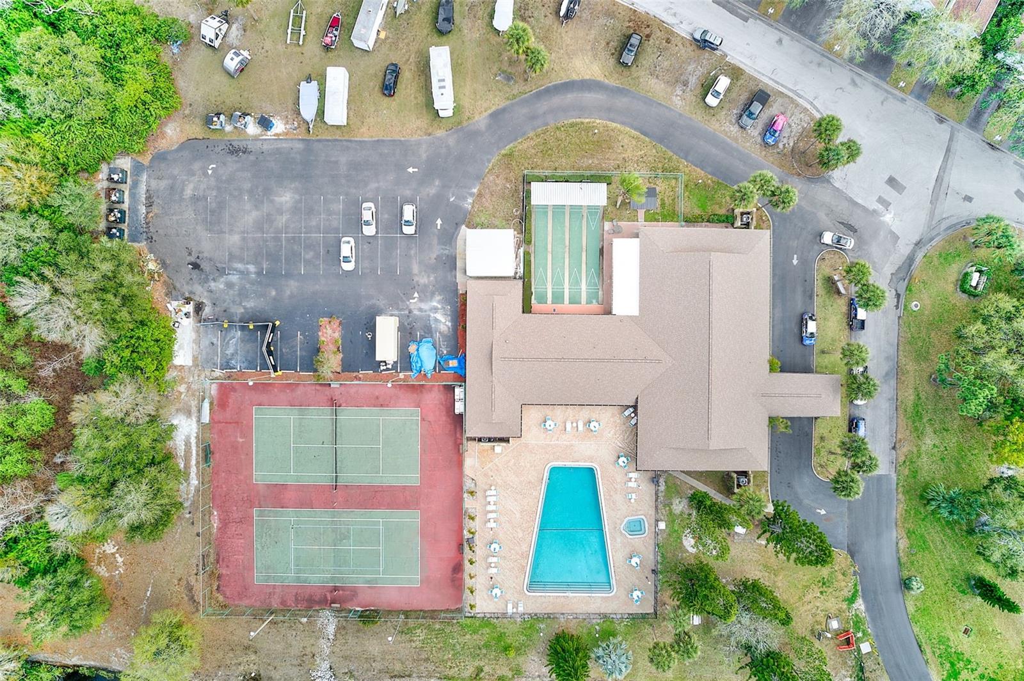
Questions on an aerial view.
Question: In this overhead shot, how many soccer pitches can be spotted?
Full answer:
There are no soccer pitches in the image.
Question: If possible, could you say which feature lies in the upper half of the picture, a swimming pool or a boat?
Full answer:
It is a boat that can be seen in the upper half of the picture.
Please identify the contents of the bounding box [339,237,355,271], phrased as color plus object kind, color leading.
white car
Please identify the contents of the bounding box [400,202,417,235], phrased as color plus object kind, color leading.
white car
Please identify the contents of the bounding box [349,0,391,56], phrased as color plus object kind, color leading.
white trailer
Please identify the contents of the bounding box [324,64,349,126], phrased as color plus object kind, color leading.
white trailer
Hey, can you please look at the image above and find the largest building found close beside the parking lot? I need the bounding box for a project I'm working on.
[466,228,840,473]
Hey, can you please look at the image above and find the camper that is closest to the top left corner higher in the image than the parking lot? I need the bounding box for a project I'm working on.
[203,12,229,46]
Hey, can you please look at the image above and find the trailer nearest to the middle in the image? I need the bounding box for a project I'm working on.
[376,317,399,371]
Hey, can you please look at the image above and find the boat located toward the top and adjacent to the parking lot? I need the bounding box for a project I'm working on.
[300,74,317,123]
